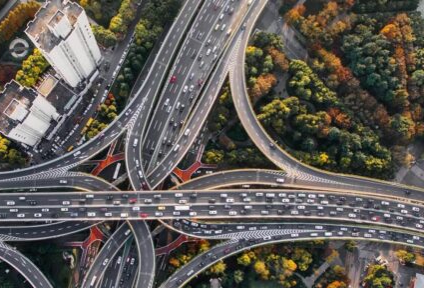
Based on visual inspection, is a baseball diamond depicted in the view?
No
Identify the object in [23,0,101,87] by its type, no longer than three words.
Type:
building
